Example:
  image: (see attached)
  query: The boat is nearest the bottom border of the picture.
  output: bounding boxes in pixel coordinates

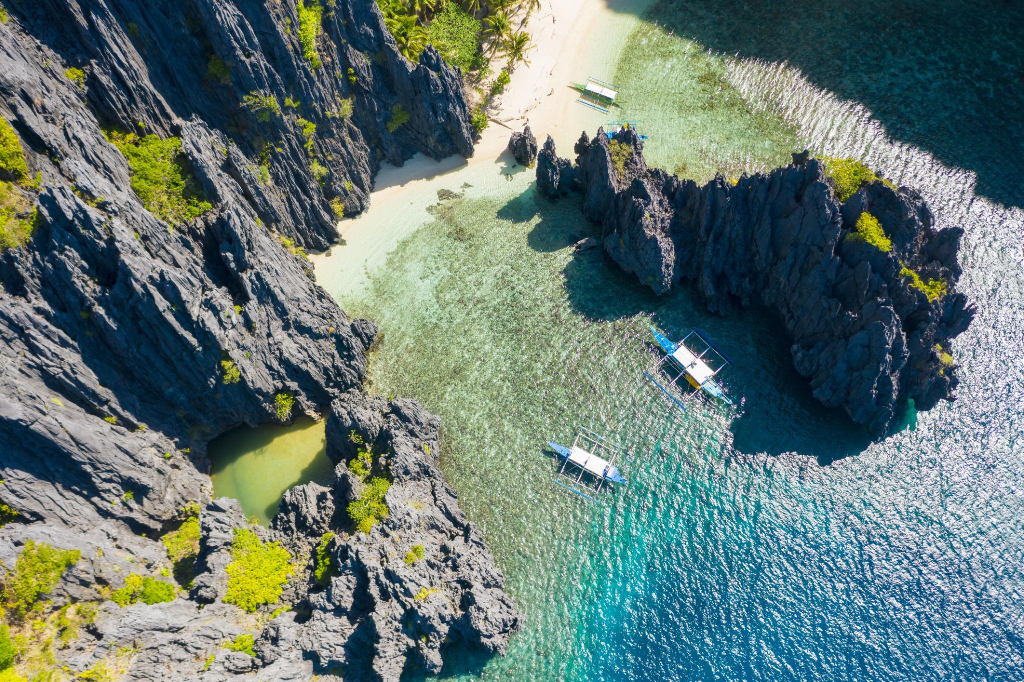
[548,431,628,498]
